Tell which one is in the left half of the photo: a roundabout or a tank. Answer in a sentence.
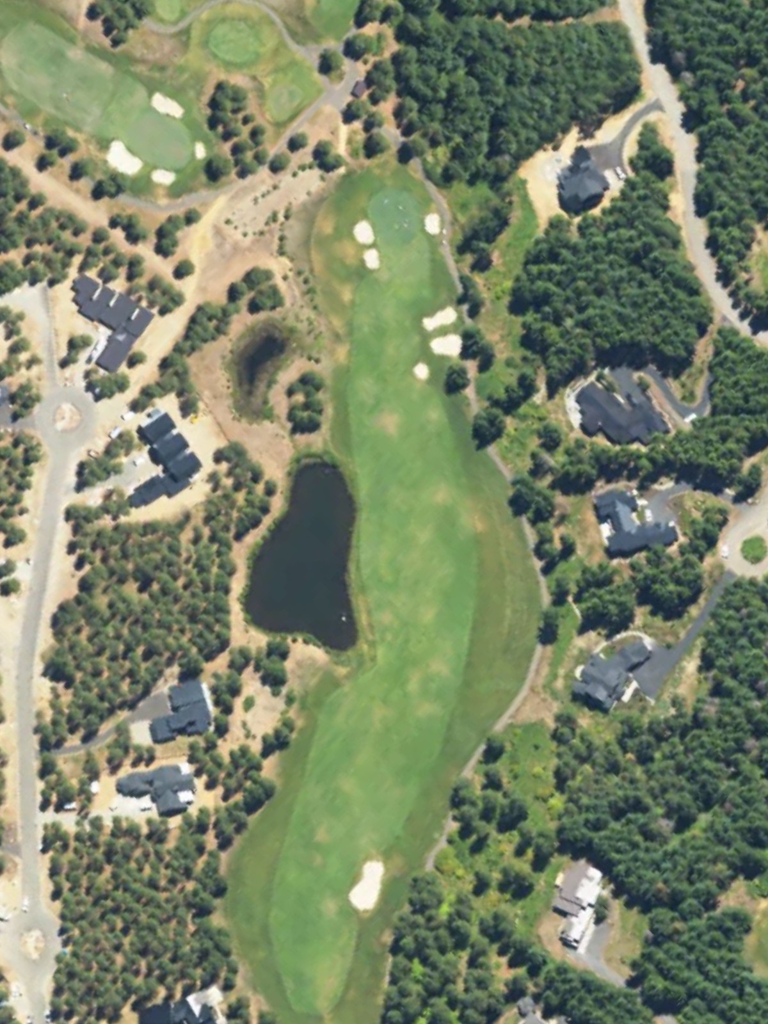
The feature located in the left half of the photo is a roundabout.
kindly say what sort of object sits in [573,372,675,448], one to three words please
house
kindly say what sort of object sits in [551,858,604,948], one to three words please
house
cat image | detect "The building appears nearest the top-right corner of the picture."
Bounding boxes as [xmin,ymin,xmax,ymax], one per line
[555,143,612,216]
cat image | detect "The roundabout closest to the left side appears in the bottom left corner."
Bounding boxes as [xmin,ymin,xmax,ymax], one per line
[1,908,63,981]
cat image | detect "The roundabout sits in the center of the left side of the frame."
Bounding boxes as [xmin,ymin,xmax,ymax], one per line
[36,386,100,447]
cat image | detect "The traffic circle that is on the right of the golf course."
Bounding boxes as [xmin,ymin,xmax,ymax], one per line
[721,518,768,579]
